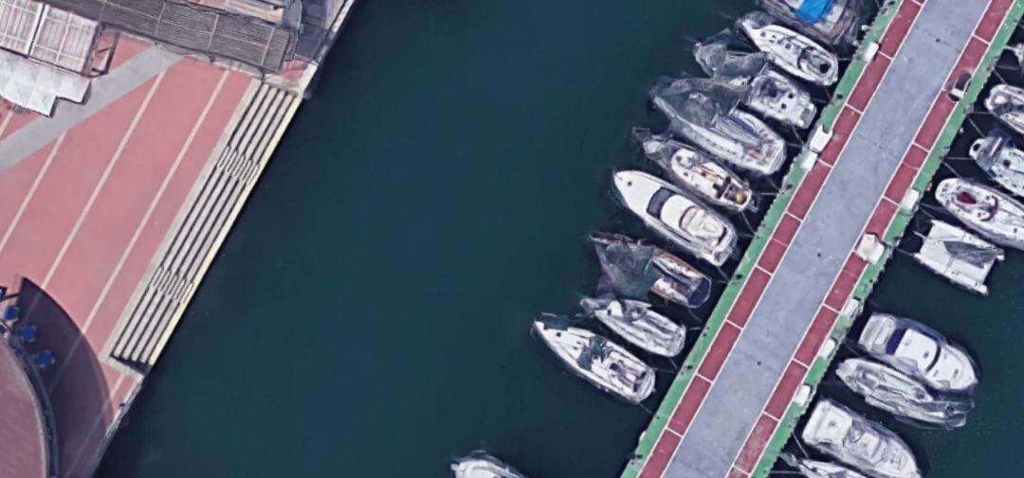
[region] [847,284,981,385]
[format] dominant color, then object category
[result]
white boat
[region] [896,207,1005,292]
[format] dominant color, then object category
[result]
white boat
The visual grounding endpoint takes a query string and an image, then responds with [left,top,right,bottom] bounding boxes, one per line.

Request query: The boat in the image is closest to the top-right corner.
[996,41,1024,90]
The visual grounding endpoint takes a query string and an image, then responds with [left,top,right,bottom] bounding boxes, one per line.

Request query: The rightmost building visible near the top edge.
[198,0,309,60]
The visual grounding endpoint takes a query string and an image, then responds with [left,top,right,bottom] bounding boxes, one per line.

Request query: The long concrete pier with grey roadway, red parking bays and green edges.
[620,0,1024,478]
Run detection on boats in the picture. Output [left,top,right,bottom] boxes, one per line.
[450,457,521,478]
[741,12,849,95]
[759,0,881,44]
[612,172,763,279]
[996,41,1024,90]
[818,337,974,420]
[651,88,804,197]
[697,30,836,140]
[589,234,729,324]
[579,296,706,378]
[847,284,981,385]
[919,165,1024,254]
[633,129,780,232]
[964,116,1024,199]
[781,435,847,478]
[532,314,688,415]
[969,64,1024,141]
[794,401,923,478]
[896,207,1005,292]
